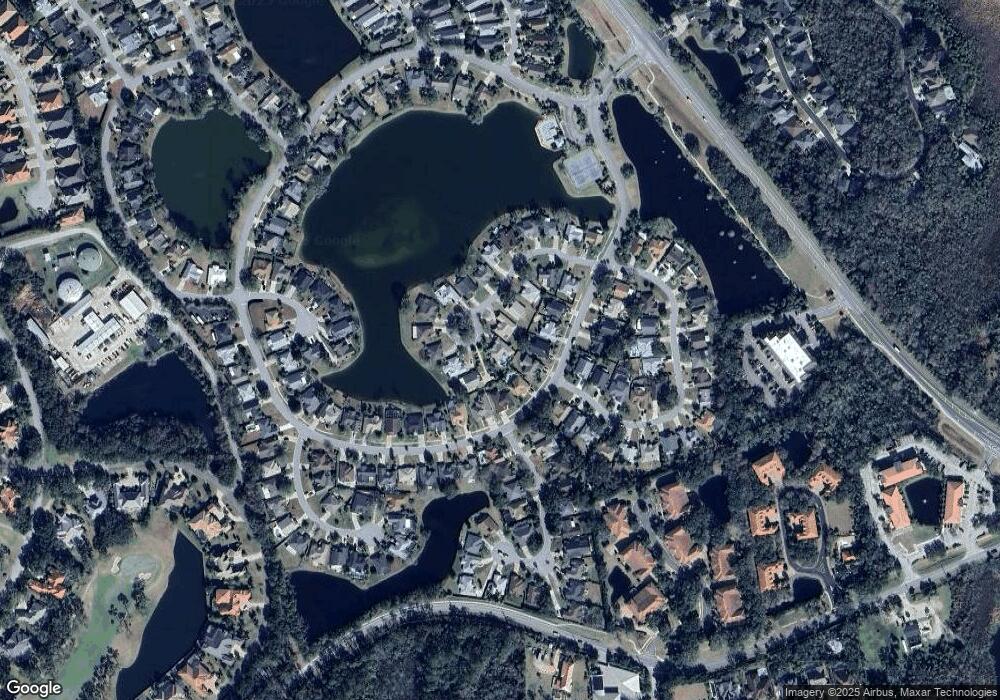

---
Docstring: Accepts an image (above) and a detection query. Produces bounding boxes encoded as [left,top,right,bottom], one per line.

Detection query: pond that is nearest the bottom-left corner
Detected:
[83,351,215,437]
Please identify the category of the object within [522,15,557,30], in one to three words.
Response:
house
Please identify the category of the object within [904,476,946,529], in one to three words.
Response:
pond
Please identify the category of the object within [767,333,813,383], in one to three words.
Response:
building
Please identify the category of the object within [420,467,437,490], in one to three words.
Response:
house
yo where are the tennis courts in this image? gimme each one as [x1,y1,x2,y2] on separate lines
[576,149,602,181]
[564,156,590,187]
